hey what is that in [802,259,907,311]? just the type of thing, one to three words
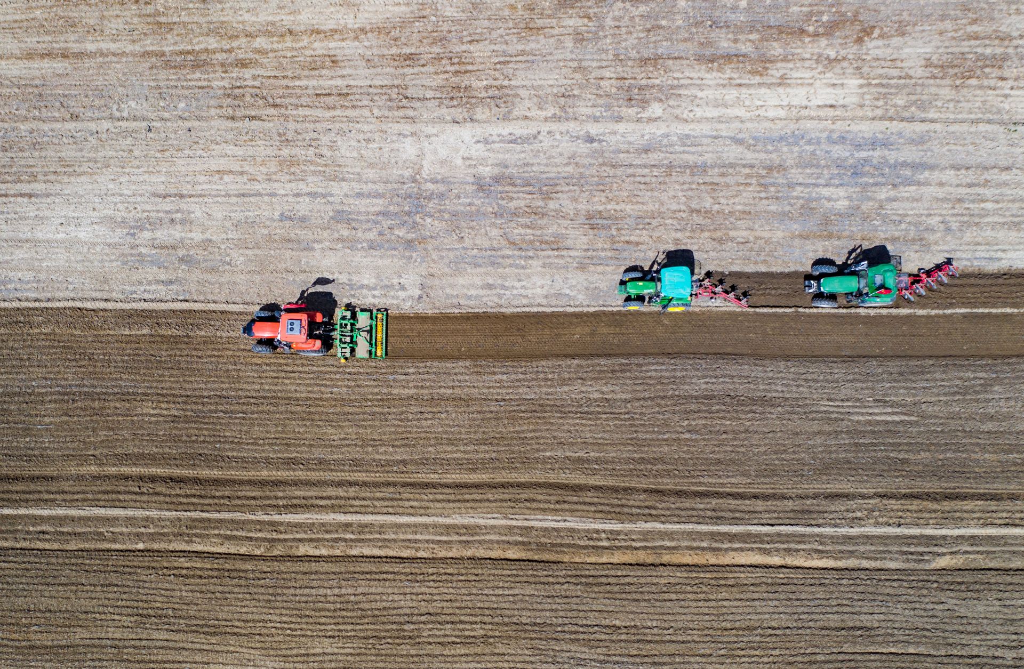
work vehicle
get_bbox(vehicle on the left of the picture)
[240,307,337,356]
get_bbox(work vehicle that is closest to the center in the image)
[614,263,699,313]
